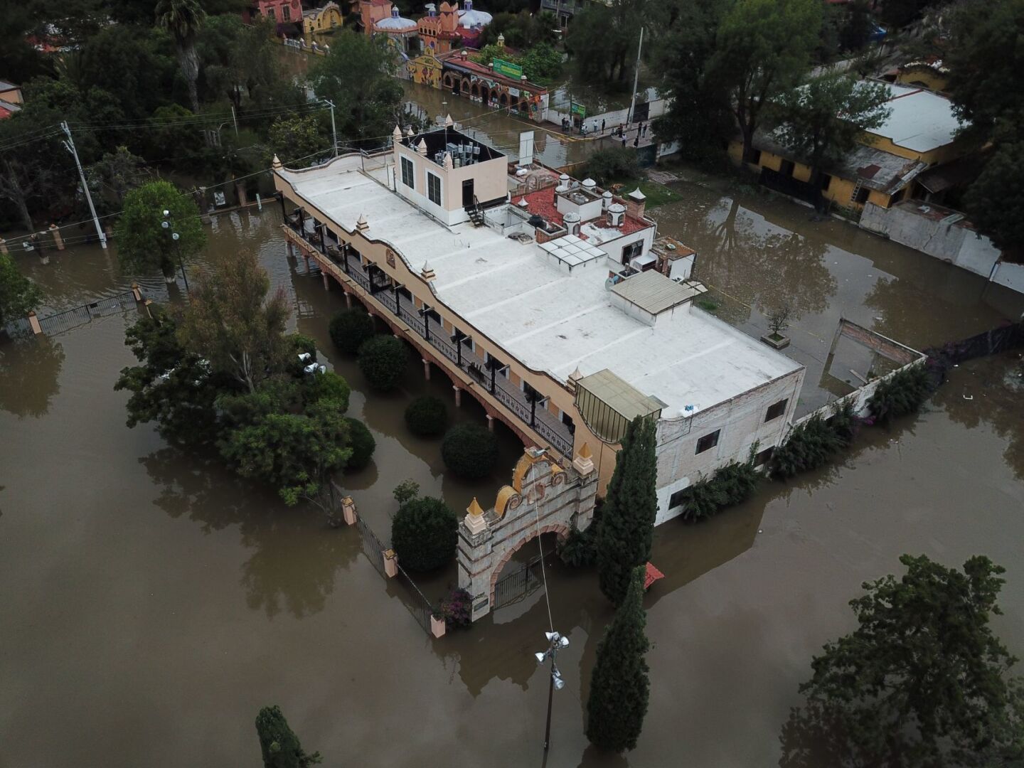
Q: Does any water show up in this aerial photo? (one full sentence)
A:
Yes, the picture does contain water.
